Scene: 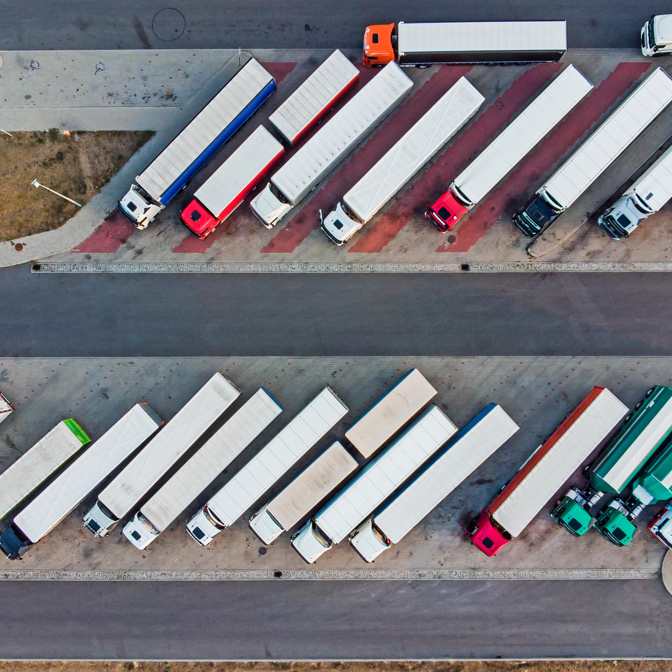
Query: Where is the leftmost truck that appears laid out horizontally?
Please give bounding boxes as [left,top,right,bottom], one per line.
[363,21,566,67]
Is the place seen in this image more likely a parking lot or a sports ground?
parking lot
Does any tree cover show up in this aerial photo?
No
